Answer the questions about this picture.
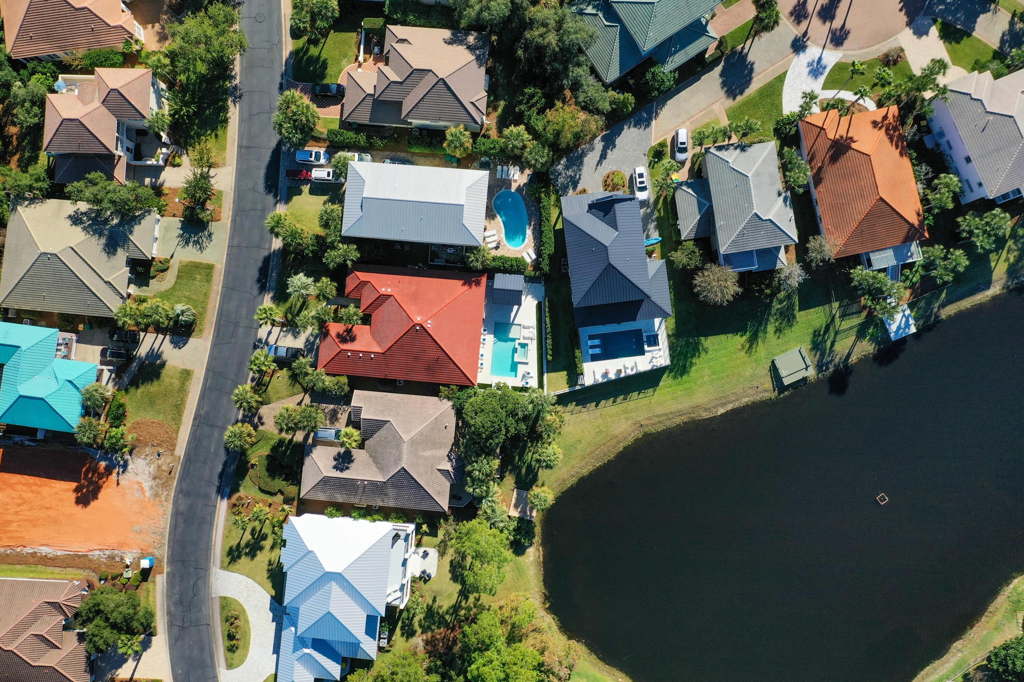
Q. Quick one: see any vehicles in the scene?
Yes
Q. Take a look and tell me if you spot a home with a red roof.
Yes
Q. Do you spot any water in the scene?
Yes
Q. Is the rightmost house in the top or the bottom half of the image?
top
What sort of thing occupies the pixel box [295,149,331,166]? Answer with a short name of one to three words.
car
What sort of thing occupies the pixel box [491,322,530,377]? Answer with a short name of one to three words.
swimming pool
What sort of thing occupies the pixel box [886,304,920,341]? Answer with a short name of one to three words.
pier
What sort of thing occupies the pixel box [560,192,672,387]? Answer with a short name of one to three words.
house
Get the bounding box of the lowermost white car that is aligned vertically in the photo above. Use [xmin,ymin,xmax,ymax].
[632,166,650,203]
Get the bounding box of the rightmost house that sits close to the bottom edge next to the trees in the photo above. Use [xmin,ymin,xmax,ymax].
[277,509,417,682]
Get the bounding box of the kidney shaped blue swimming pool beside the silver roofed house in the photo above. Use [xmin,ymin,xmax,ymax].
[491,188,531,250]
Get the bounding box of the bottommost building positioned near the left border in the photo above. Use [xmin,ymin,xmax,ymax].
[0,578,92,682]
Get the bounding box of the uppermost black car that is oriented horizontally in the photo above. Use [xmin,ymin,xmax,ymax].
[311,81,346,98]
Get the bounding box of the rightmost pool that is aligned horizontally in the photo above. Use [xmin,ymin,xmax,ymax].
[588,329,662,362]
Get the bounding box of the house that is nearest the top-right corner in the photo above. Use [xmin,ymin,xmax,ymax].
[915,67,1024,203]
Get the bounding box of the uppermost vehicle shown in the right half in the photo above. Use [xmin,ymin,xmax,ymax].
[673,128,689,163]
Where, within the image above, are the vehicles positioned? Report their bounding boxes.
[337,149,375,162]
[673,128,689,163]
[269,343,307,359]
[295,149,331,166]
[311,81,346,98]
[311,167,346,184]
[109,327,144,343]
[381,157,413,165]
[283,166,312,182]
[632,166,650,203]
[313,427,344,443]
